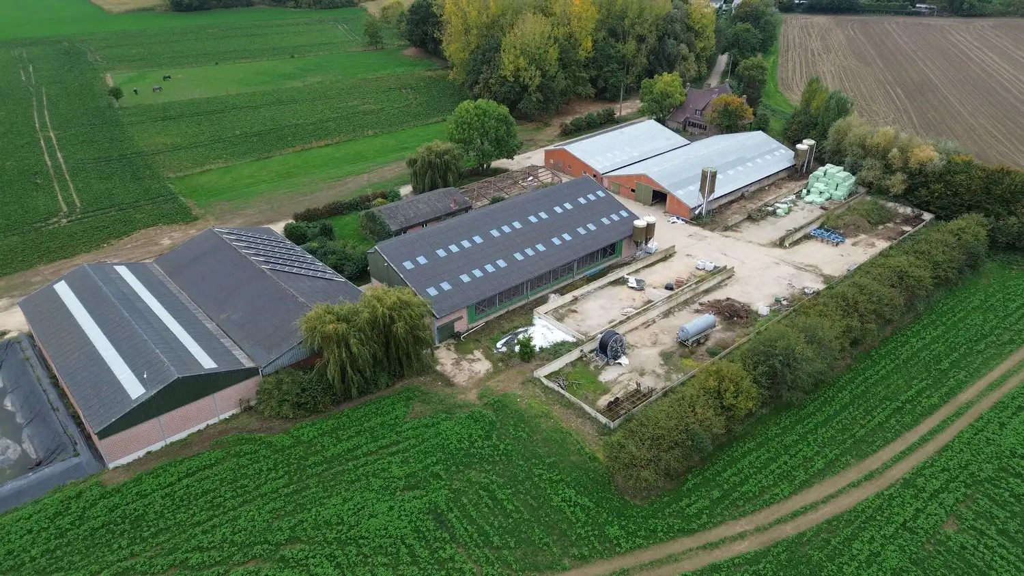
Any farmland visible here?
Yes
